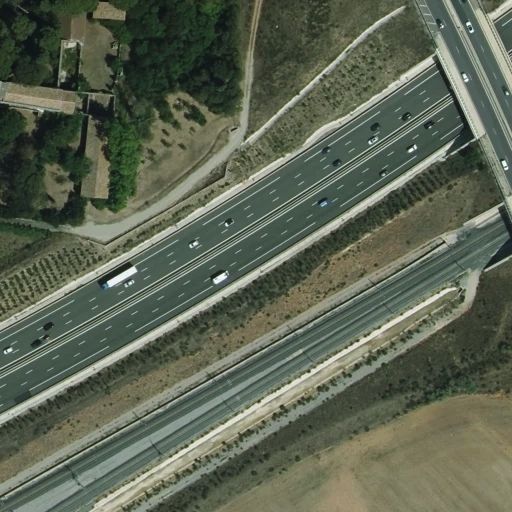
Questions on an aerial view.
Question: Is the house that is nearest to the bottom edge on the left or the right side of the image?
left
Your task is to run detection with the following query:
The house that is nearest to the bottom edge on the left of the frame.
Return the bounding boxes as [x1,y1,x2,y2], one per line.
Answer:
[81,114,115,198]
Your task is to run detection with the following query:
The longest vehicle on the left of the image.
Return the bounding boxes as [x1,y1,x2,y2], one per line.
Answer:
[100,266,136,291]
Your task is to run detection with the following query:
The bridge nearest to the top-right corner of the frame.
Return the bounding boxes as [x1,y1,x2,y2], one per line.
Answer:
[436,17,512,140]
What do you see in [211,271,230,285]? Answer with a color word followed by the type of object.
white vehicle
